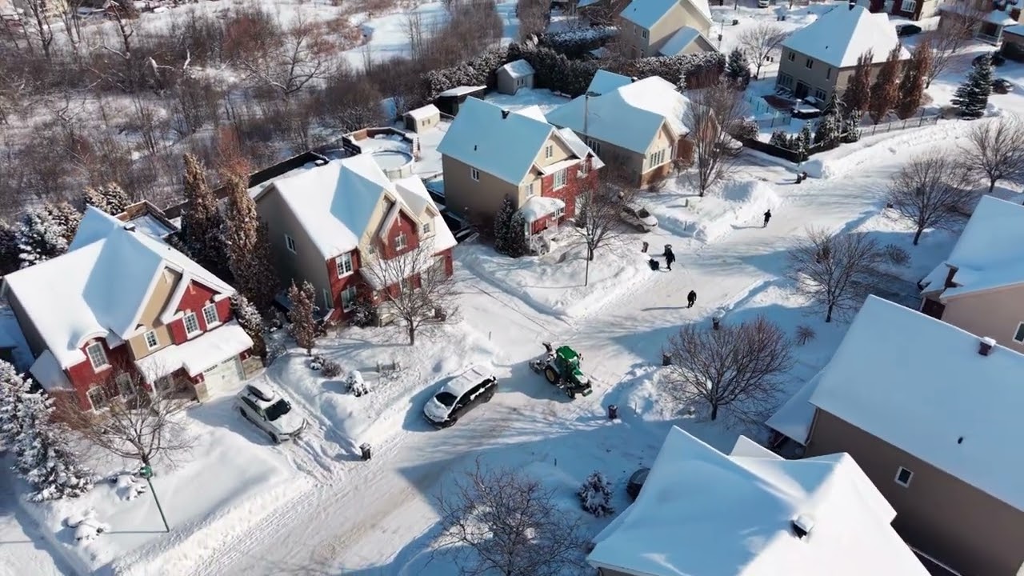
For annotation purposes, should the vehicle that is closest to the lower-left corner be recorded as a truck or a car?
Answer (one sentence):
It turns out the vehicle that is closest to the lower-left corner is a car.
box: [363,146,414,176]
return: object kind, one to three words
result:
swimming pool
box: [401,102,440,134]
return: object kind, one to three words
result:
shed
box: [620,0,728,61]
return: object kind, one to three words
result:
house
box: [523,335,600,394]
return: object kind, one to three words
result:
work vehicle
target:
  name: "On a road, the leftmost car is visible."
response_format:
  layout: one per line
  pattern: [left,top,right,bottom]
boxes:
[239,382,302,440]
